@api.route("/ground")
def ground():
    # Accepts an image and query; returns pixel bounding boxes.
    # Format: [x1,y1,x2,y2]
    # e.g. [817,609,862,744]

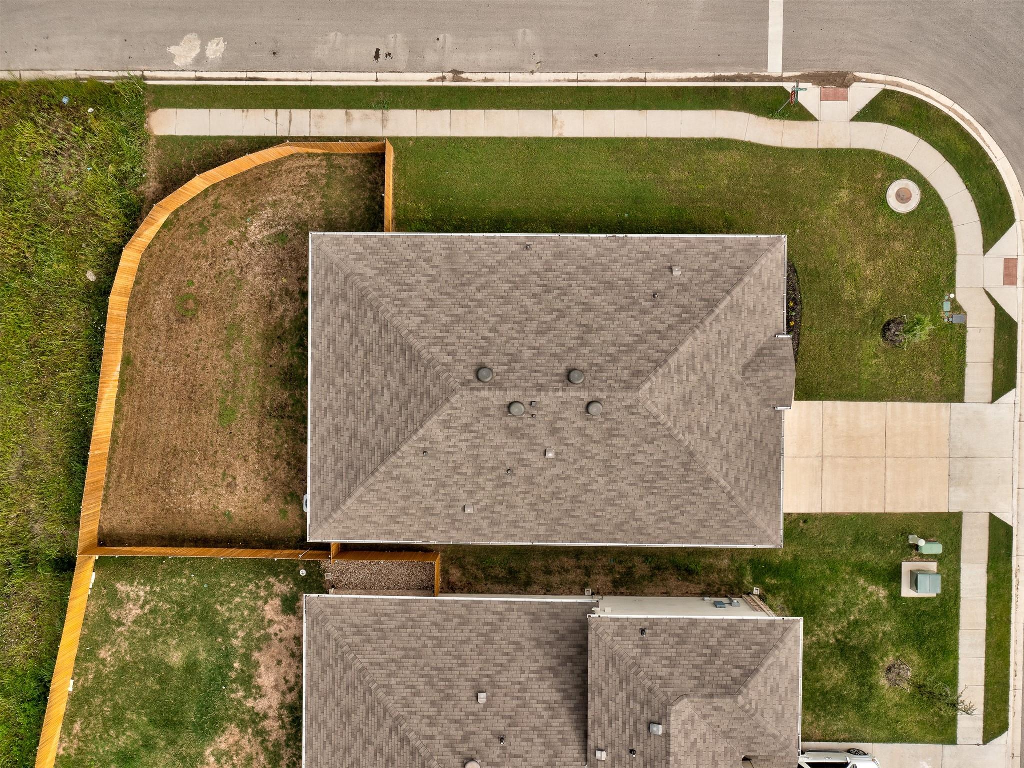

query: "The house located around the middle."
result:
[308,233,797,546]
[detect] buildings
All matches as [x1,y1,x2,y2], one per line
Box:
[308,233,797,546]
[302,584,803,768]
